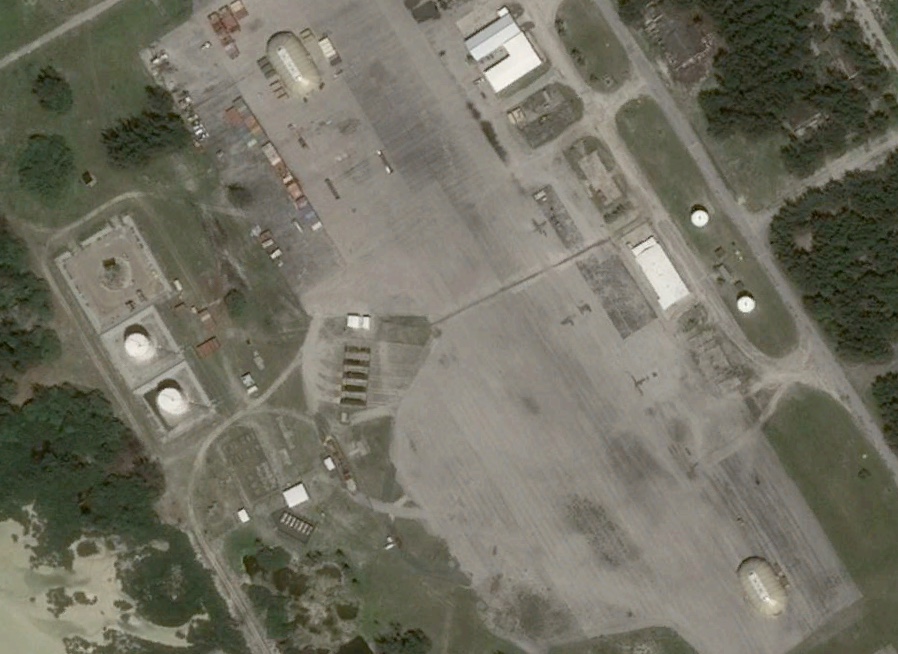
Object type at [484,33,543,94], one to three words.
building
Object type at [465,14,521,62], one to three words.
shed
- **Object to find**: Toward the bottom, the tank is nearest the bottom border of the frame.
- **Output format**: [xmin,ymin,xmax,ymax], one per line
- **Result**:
[157,387,189,418]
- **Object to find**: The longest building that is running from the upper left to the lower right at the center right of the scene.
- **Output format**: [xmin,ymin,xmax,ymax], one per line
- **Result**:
[638,245,691,312]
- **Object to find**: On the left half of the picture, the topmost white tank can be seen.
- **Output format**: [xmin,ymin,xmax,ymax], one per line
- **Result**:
[125,333,156,364]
